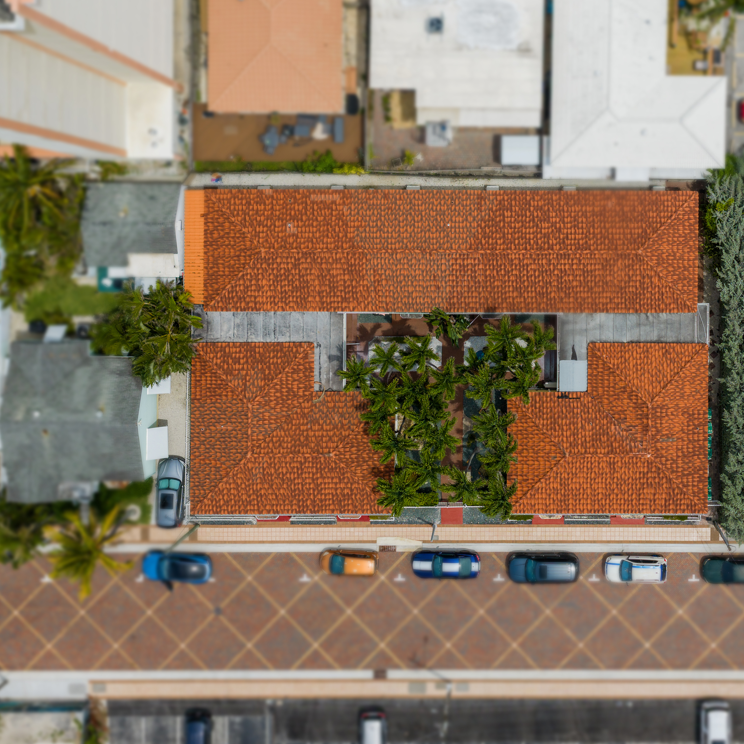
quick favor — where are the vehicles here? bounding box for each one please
[321,544,379,578]
[184,704,216,744]
[699,551,744,587]
[412,545,481,581]
[359,702,387,744]
[144,546,215,585]
[698,695,731,744]
[602,549,668,587]
[154,454,188,527]
[507,546,578,586]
